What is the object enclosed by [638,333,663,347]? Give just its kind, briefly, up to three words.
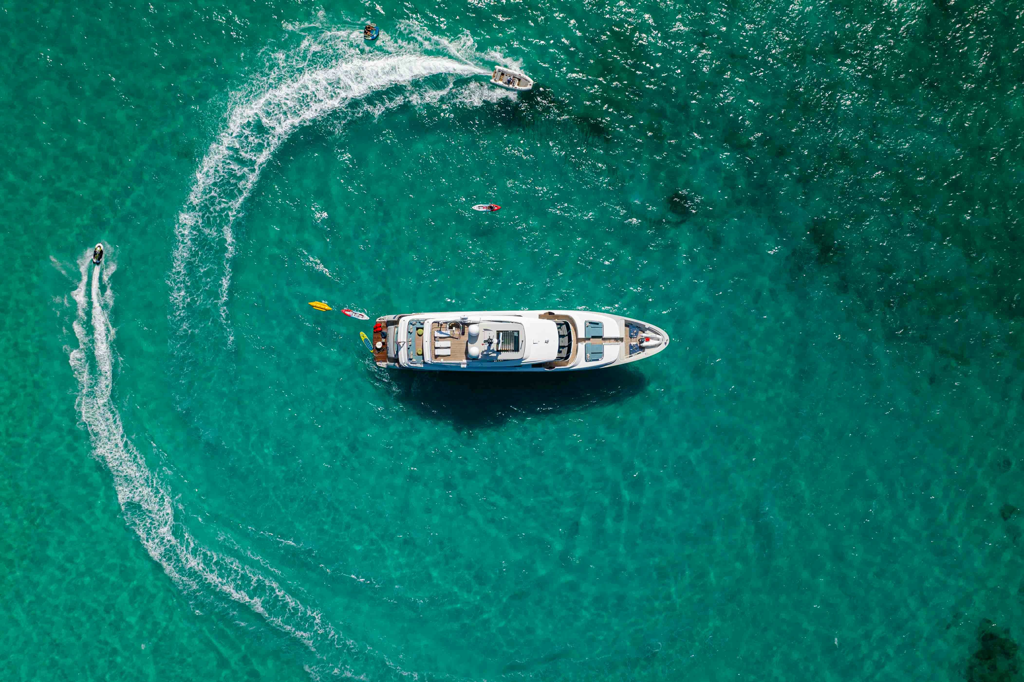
boat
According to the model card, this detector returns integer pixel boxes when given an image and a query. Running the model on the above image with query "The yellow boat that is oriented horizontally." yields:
[306,300,332,312]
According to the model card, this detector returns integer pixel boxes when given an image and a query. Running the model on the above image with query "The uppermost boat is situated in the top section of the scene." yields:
[489,63,535,89]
